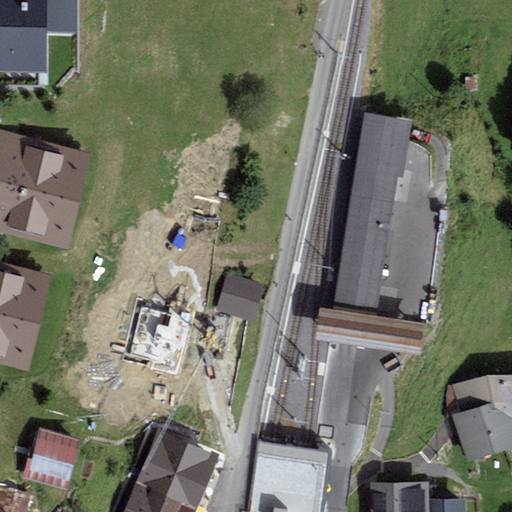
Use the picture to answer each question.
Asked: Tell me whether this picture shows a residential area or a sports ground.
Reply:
residential area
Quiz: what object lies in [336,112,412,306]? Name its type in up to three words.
building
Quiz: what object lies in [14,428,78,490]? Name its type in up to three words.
barn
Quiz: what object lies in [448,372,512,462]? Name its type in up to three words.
house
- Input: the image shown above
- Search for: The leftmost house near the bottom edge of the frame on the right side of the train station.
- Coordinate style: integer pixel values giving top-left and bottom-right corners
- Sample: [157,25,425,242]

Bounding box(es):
[372,482,430,512]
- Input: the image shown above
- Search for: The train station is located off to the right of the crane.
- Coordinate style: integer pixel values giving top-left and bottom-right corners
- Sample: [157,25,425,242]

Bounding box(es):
[250,440,335,512]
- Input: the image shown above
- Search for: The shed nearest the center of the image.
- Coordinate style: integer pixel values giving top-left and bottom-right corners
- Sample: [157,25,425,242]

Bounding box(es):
[217,276,264,322]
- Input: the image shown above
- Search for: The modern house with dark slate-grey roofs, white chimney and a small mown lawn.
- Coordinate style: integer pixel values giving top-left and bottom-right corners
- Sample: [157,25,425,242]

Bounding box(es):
[0,0,76,73]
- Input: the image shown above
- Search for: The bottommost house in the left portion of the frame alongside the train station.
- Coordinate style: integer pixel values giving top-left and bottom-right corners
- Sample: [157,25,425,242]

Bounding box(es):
[119,434,225,512]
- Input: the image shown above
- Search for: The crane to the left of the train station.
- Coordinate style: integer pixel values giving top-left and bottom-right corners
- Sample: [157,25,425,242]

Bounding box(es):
[143,328,218,470]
